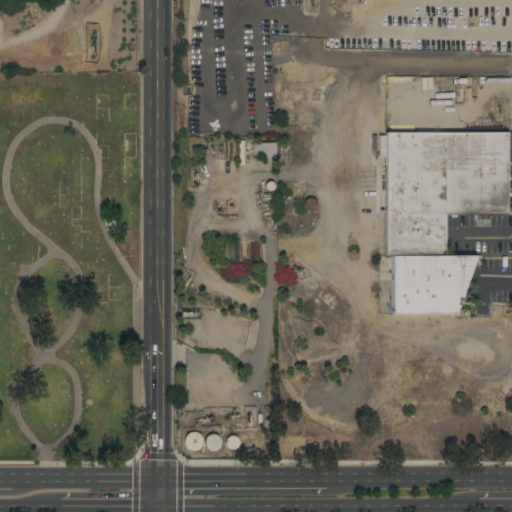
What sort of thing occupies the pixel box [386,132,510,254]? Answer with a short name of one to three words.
warehouse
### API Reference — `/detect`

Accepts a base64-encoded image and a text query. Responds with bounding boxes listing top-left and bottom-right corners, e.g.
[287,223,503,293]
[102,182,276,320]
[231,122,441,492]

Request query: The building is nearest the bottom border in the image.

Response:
[391,256,480,314]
